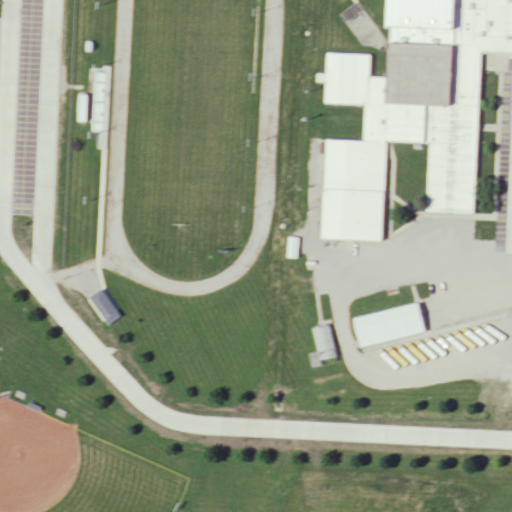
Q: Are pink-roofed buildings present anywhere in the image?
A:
No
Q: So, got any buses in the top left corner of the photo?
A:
No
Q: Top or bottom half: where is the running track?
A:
top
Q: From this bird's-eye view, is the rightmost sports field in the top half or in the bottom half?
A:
top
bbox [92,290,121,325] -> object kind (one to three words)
shed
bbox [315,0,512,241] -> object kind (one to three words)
building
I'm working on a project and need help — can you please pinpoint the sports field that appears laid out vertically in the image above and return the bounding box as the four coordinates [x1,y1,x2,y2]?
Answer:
[123,0,266,281]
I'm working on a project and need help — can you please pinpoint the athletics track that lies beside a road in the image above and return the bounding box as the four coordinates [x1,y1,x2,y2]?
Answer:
[105,0,286,297]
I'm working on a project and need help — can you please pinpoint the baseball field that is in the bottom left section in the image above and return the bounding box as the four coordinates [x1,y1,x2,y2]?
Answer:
[0,400,188,512]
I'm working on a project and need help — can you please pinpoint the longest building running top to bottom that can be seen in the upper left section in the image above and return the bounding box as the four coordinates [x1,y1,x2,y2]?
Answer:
[76,92,90,123]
